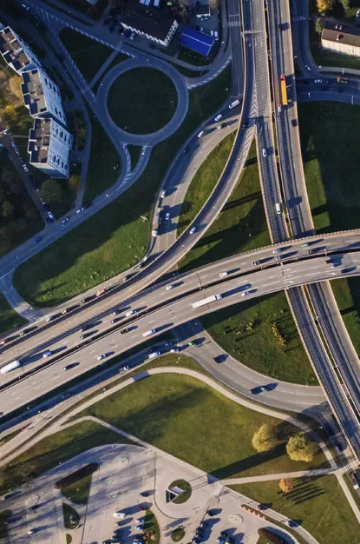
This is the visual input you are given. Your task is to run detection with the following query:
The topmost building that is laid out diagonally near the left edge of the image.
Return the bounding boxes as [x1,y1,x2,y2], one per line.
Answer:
[0,29,53,77]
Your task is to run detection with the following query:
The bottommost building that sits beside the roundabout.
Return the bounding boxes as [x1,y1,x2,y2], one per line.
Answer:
[27,118,71,171]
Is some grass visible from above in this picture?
Yes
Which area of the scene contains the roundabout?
top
